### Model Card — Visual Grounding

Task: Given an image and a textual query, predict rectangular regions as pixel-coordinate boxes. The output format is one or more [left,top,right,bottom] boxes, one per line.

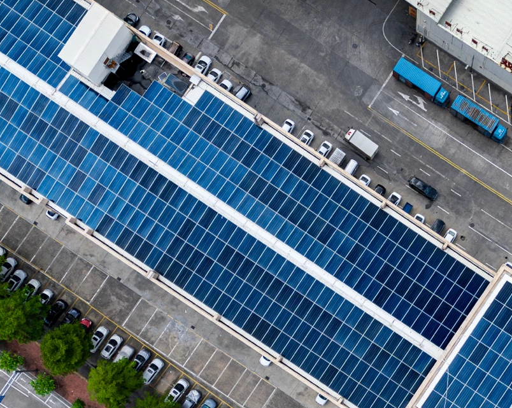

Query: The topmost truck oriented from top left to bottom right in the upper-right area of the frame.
[391,54,454,113]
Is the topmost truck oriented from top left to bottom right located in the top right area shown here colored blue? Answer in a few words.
Yes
